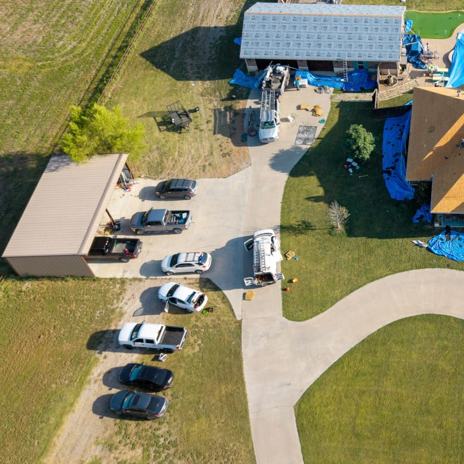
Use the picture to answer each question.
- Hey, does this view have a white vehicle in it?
Yes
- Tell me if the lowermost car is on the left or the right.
left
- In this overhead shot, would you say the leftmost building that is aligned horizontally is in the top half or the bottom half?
top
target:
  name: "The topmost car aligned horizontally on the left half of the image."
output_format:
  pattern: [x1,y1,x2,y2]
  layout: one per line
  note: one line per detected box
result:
[150,173,202,197]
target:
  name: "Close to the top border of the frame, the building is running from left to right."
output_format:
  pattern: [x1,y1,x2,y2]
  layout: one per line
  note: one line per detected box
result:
[240,2,410,77]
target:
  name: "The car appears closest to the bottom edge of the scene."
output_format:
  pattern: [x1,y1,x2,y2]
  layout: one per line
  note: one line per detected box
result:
[104,387,170,422]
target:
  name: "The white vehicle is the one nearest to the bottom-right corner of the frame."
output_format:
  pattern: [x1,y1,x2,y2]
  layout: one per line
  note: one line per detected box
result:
[240,227,288,287]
